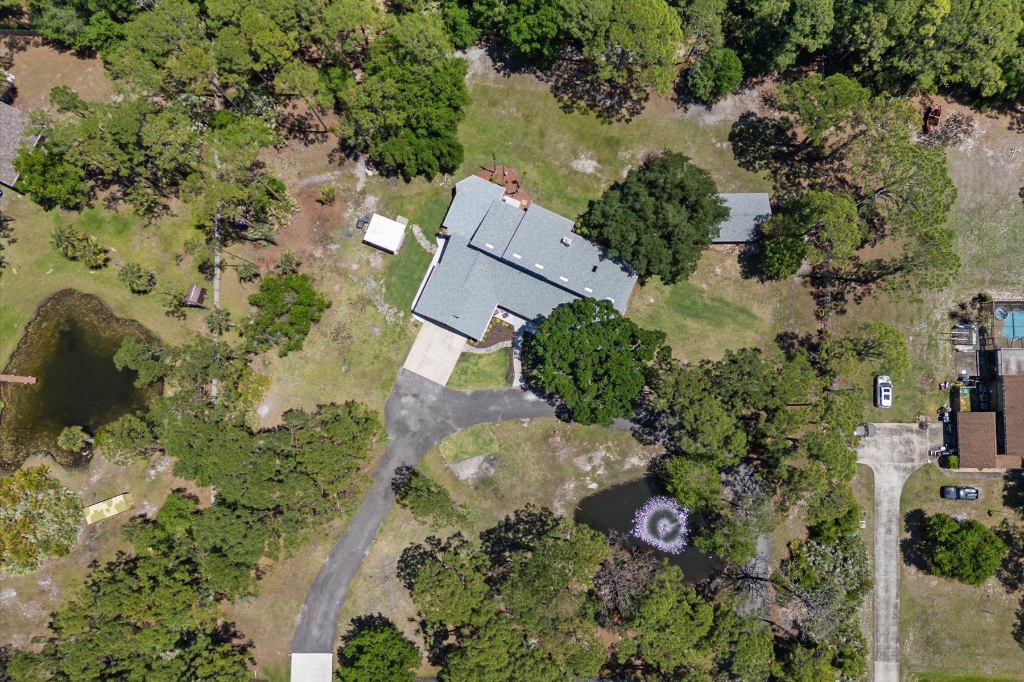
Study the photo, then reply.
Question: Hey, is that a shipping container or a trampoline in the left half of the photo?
shipping container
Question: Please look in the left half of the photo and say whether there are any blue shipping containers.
No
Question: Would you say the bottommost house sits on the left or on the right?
right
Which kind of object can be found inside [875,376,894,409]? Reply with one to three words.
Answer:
car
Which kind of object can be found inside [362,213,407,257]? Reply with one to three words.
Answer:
shed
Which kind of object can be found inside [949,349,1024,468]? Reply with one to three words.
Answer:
house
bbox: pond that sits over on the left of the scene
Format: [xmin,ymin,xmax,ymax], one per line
[0,289,167,476]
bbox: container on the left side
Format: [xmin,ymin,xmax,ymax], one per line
[82,490,138,524]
